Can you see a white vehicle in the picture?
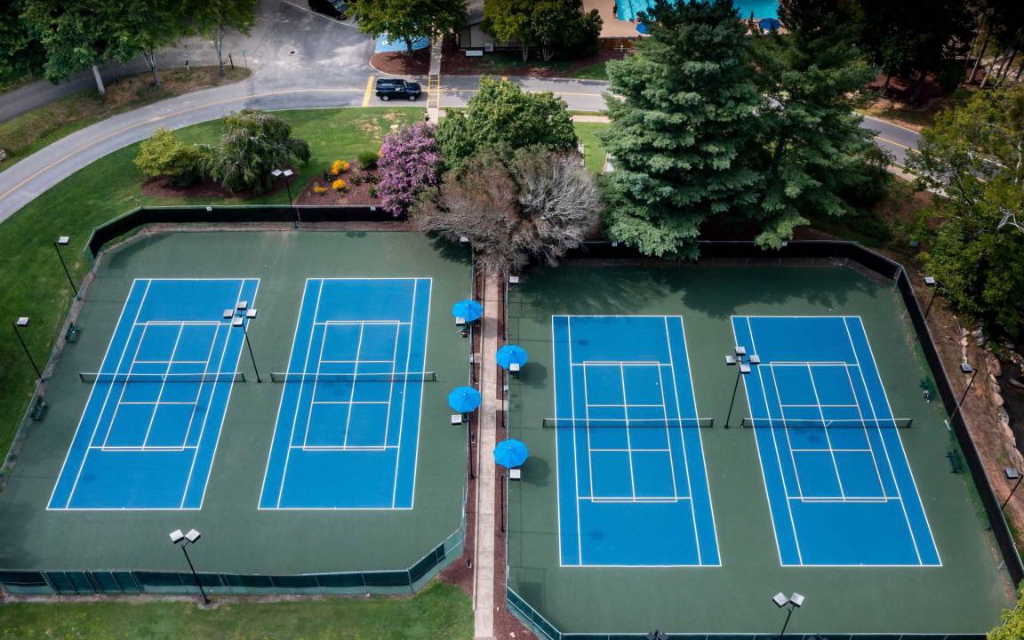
No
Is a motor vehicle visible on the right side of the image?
No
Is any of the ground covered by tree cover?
Yes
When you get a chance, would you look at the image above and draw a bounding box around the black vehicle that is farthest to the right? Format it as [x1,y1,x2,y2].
[374,76,422,100]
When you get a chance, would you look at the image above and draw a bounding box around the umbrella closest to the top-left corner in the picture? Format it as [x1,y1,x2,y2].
[452,299,480,328]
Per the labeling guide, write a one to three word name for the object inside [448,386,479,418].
umbrella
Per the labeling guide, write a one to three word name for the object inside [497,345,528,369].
umbrella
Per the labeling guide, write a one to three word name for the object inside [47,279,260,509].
tennis court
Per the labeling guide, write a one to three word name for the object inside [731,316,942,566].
tennis court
